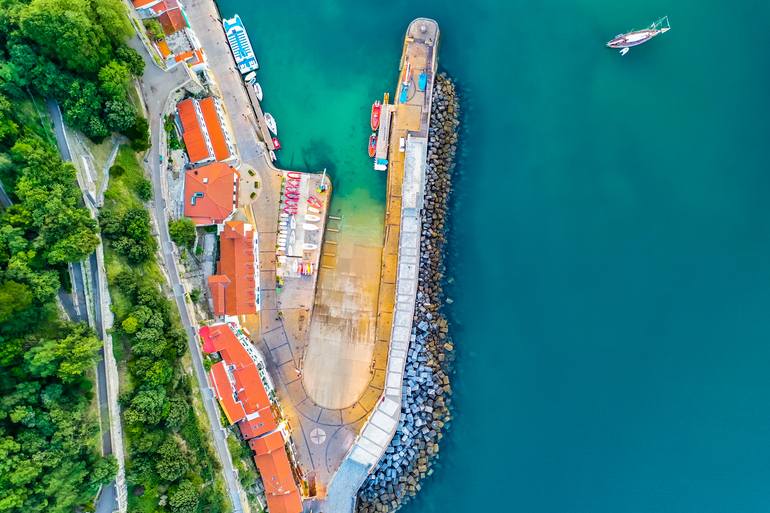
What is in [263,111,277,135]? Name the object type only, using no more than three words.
boat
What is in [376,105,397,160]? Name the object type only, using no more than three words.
pier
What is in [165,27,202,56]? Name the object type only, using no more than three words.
house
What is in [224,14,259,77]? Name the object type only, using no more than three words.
boat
